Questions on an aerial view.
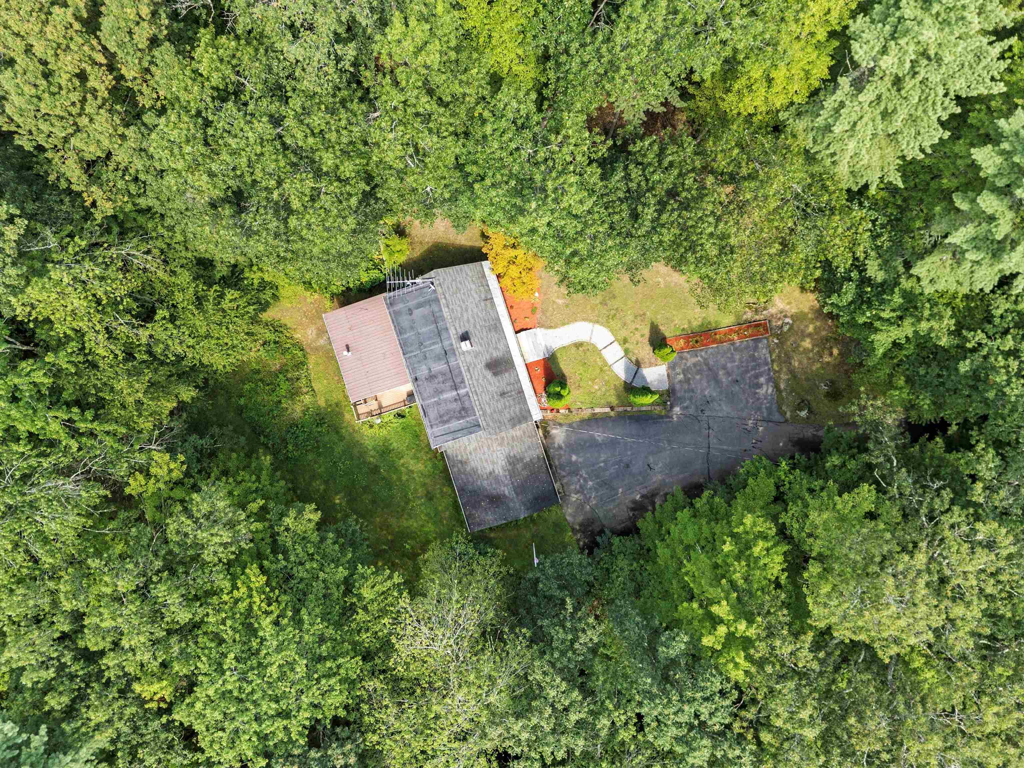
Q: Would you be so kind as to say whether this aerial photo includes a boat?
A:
No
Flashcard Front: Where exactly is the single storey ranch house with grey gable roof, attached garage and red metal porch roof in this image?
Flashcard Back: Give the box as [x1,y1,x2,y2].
[322,259,563,531]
